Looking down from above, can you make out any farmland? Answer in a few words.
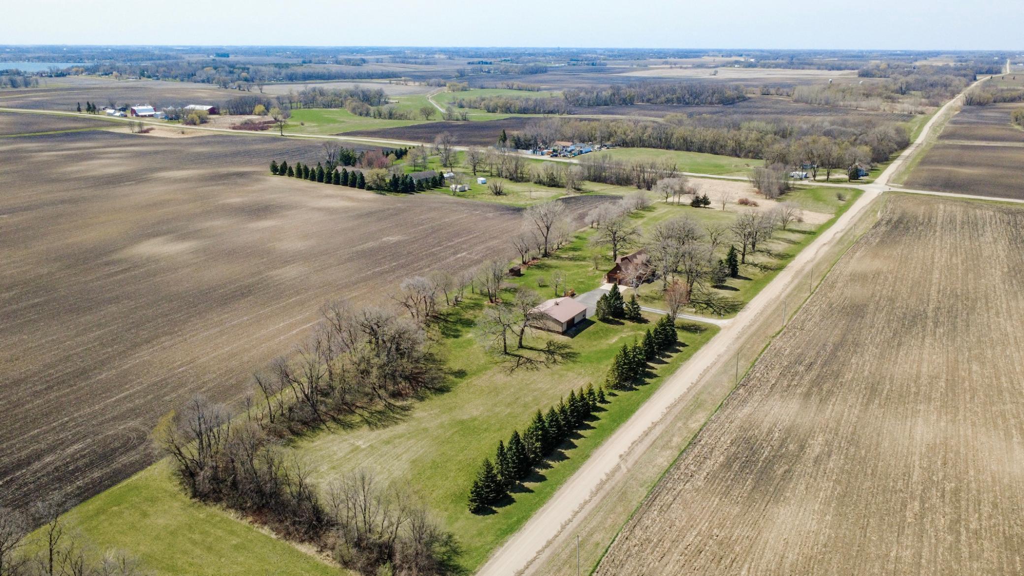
Yes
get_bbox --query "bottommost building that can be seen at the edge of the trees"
[528,297,589,334]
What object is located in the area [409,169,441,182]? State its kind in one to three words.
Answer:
shed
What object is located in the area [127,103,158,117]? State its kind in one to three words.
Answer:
barn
